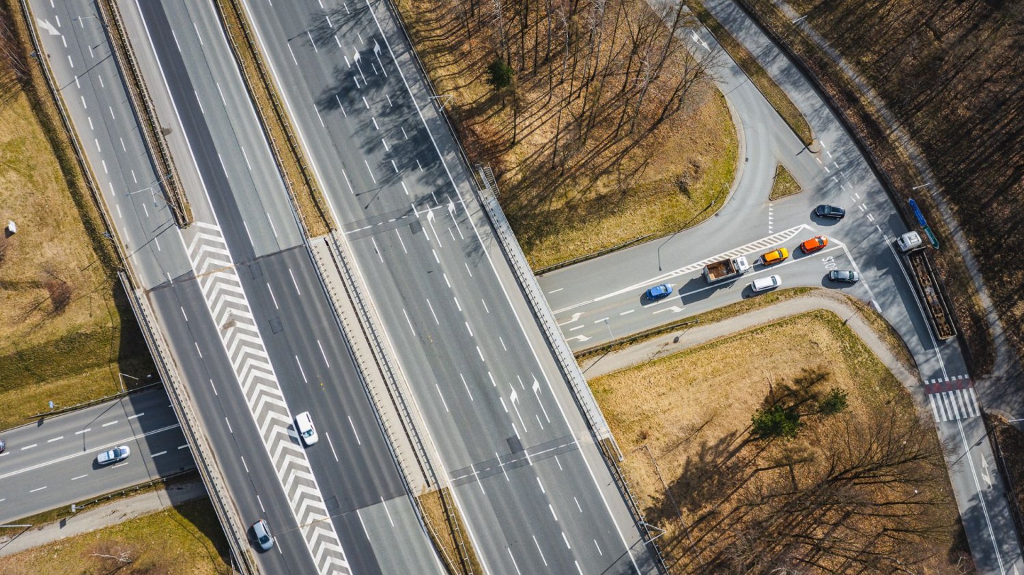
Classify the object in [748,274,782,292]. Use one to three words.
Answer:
car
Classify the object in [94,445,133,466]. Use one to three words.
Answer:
car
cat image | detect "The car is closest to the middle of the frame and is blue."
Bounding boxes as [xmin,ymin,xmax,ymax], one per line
[645,283,673,301]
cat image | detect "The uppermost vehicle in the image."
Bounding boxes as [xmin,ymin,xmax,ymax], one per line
[814,203,846,220]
